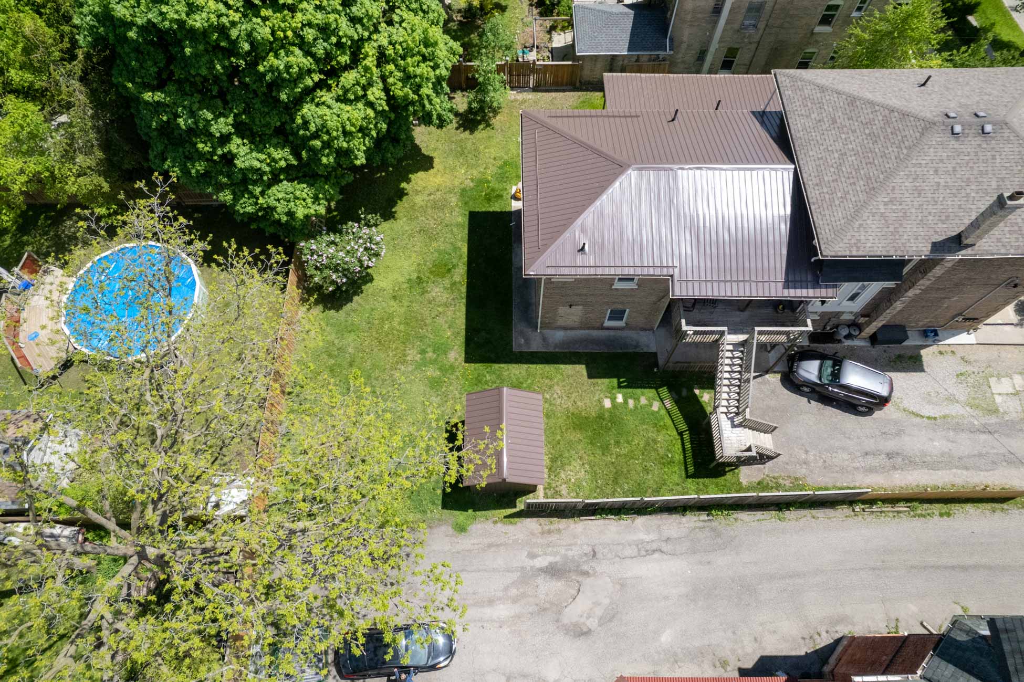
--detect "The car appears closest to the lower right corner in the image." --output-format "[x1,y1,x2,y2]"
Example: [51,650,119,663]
[788,352,892,414]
